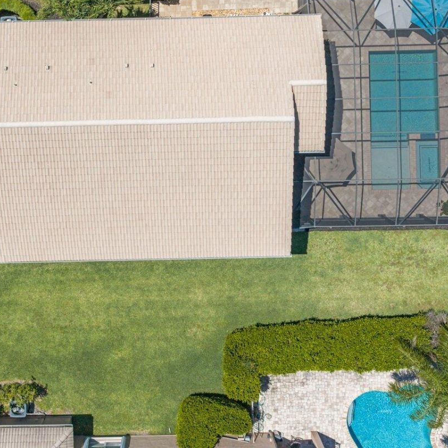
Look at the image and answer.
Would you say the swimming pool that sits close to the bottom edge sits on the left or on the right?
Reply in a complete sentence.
The swimming pool that sits close to the bottom edge sits on the right side.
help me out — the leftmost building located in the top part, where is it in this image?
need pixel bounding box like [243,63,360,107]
[0,12,328,265]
